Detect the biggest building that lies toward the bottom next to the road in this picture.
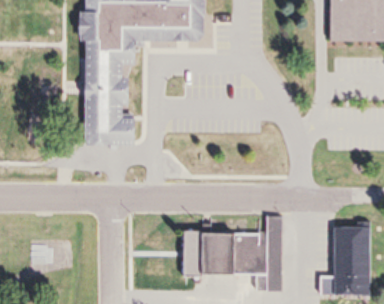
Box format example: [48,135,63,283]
[184,216,282,290]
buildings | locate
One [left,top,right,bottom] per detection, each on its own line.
[79,0,206,144]
[184,216,282,290]
[330,0,384,40]
[320,226,372,294]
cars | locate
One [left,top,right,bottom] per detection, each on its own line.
[186,72,192,84]
[229,84,235,96]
